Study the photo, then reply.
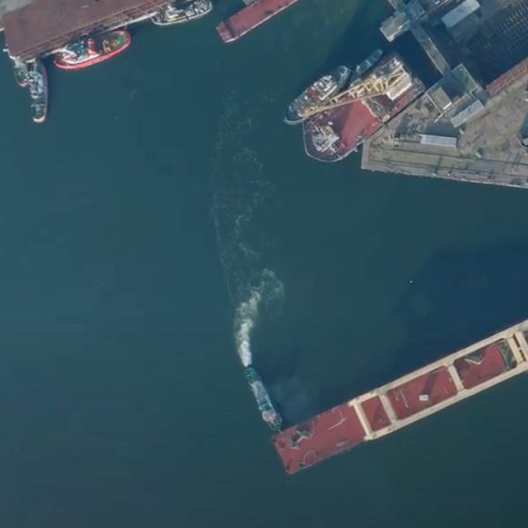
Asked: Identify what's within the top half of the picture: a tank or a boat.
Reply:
boat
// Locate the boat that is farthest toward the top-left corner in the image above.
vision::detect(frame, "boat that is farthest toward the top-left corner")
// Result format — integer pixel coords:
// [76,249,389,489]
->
[6,54,30,88]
